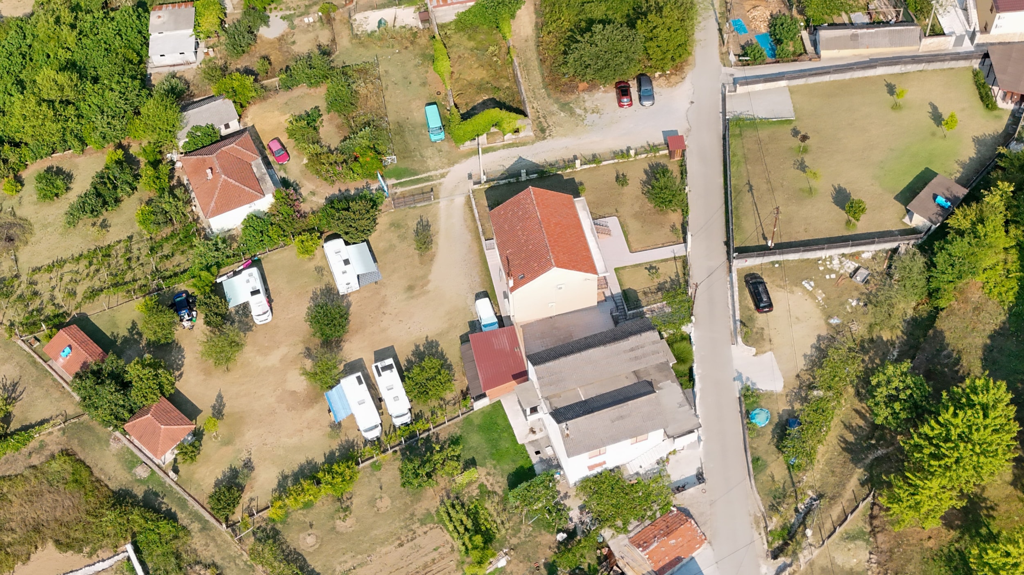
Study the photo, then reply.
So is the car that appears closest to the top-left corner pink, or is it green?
pink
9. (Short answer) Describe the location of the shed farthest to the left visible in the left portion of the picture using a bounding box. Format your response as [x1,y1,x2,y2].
[43,324,105,386]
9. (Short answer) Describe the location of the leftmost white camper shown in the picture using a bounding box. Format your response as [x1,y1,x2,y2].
[218,268,277,334]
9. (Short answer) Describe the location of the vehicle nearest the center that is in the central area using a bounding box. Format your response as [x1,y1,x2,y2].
[474,289,499,331]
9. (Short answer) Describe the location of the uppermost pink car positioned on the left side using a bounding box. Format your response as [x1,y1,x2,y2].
[267,137,291,164]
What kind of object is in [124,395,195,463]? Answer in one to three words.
shed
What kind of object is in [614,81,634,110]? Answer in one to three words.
car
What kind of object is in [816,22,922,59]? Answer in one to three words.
shed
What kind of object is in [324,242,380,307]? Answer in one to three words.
camper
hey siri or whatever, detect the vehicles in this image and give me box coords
[267,137,291,164]
[372,358,414,427]
[218,268,277,334]
[326,373,384,442]
[324,242,380,307]
[167,292,197,325]
[424,103,446,142]
[744,276,775,313]
[474,289,499,331]
[614,81,634,110]
[636,76,656,108]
